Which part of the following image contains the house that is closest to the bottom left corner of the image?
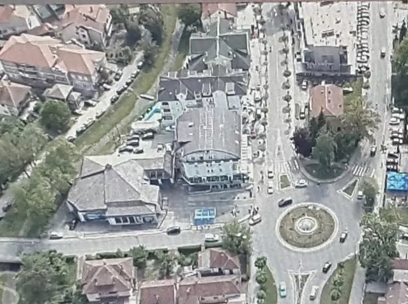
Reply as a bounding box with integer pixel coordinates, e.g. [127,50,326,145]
[82,259,134,304]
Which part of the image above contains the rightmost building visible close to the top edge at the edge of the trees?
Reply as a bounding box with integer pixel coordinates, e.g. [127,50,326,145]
[295,0,359,85]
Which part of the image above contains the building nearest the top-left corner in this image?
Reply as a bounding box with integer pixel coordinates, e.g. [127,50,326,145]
[0,1,29,31]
